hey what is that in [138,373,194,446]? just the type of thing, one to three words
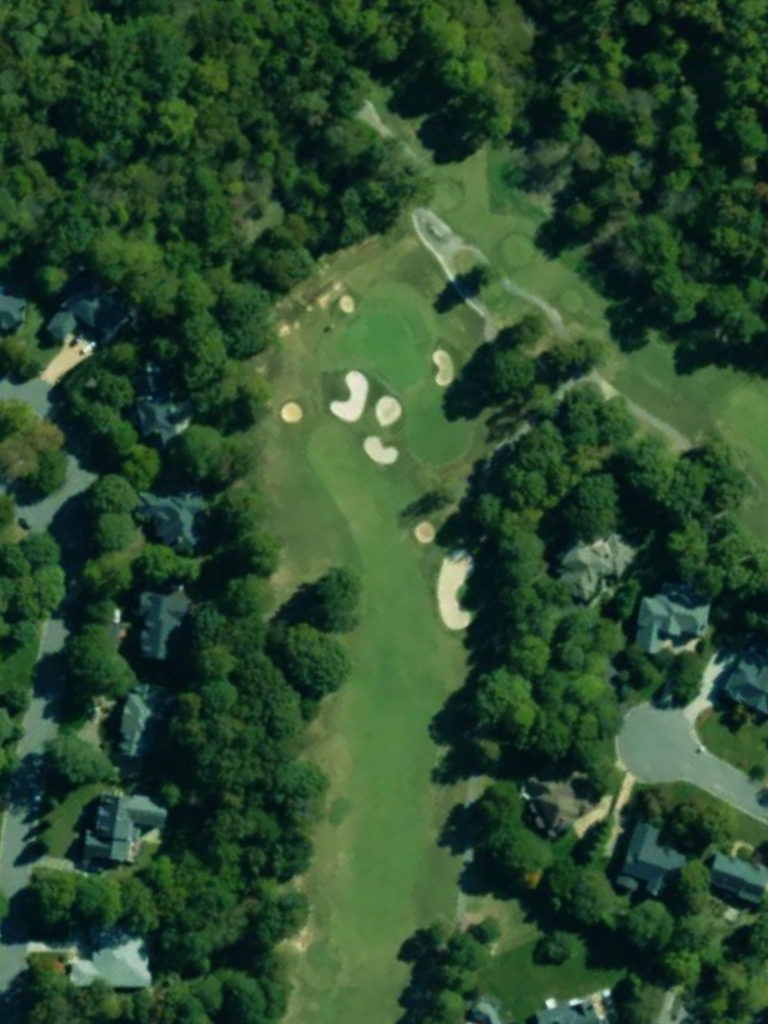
house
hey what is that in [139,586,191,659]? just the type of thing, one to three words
house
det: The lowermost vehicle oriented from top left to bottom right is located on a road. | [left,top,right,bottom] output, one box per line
[16,516,30,531]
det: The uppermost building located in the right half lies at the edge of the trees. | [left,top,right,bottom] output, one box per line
[557,532,637,602]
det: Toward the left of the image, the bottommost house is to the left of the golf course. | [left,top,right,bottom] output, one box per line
[67,934,151,990]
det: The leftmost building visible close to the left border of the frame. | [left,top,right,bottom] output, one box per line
[0,288,30,334]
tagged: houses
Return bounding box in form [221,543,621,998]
[520,773,590,841]
[461,998,500,1024]
[82,792,168,864]
[534,989,613,1024]
[138,373,194,446]
[719,649,768,712]
[139,586,191,659]
[67,934,151,990]
[0,288,30,334]
[133,489,203,550]
[707,851,768,906]
[616,818,690,898]
[636,583,714,654]
[557,532,637,602]
[43,284,131,342]
[115,681,159,758]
